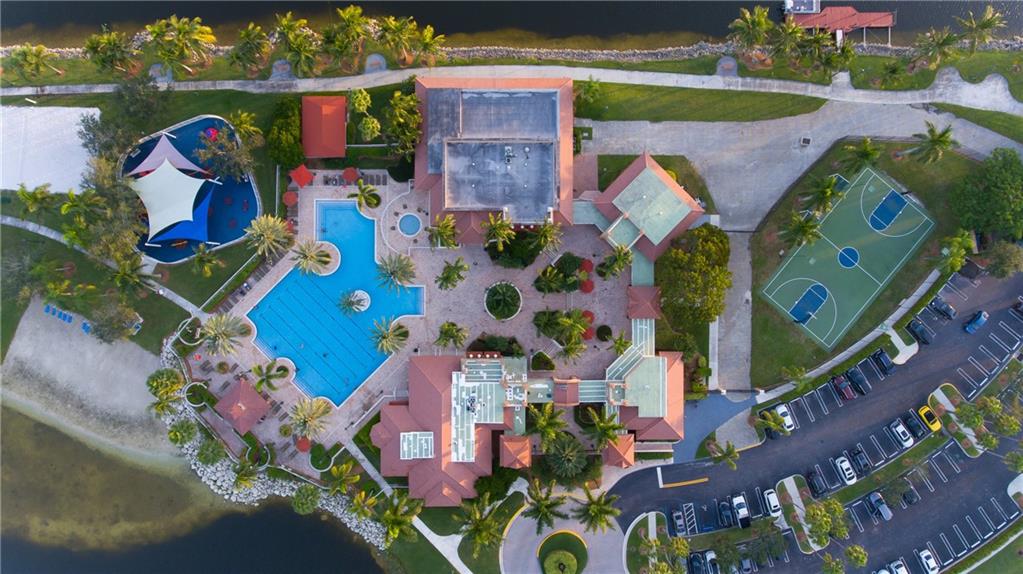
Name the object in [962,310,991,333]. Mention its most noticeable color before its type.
blue car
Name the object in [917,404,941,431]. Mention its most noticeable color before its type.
yellow car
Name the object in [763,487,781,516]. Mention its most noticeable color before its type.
white car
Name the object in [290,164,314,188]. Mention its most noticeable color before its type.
red umbrella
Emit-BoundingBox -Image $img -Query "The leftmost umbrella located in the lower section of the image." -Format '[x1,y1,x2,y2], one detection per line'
[296,435,312,451]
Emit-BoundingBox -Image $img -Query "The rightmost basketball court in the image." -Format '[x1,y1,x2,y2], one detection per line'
[759,165,939,353]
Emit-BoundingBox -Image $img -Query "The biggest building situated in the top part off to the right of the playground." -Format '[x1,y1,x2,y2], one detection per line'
[415,78,600,245]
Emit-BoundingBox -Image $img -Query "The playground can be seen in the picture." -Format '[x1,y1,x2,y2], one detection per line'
[124,110,261,264]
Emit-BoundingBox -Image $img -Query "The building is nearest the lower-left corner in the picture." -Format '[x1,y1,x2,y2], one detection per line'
[213,376,273,436]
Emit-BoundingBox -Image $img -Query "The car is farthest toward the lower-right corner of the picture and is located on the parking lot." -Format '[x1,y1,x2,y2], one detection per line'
[918,547,941,574]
